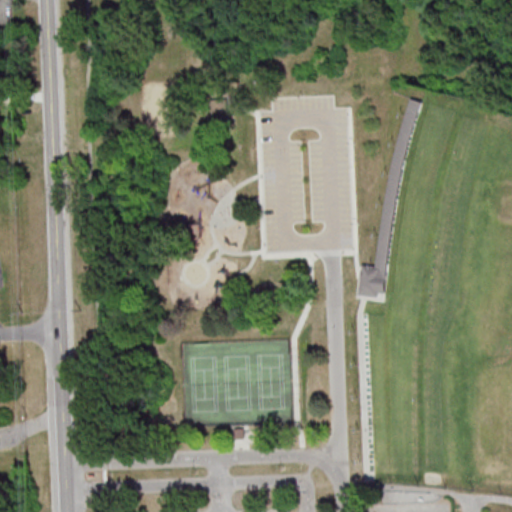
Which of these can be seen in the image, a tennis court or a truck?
tennis court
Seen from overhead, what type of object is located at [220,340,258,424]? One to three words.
tennis court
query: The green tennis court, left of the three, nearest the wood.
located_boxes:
[184,342,224,424]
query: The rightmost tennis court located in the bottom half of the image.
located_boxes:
[254,339,294,422]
